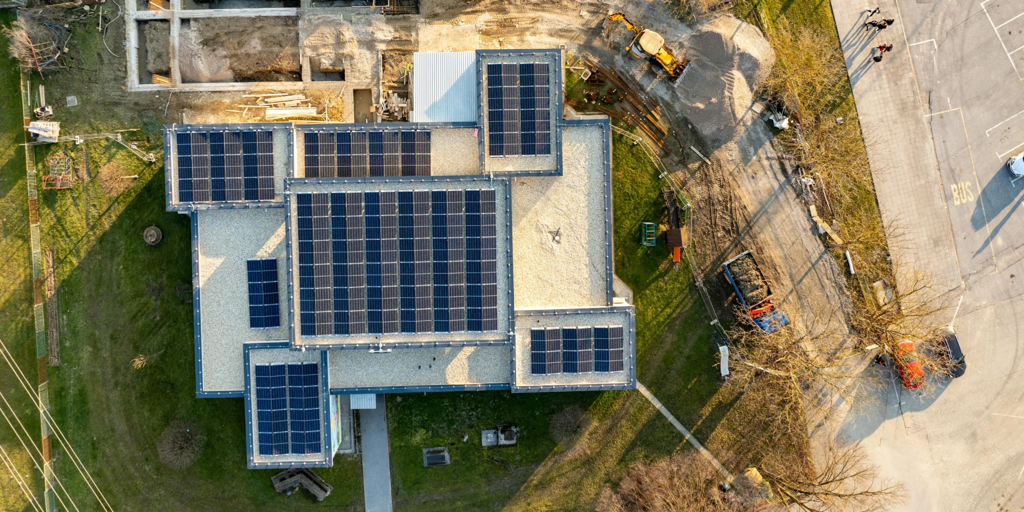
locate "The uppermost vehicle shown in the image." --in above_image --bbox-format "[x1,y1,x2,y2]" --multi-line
[598,9,691,92]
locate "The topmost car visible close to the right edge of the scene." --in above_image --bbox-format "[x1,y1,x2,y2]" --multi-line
[1002,147,1024,177]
